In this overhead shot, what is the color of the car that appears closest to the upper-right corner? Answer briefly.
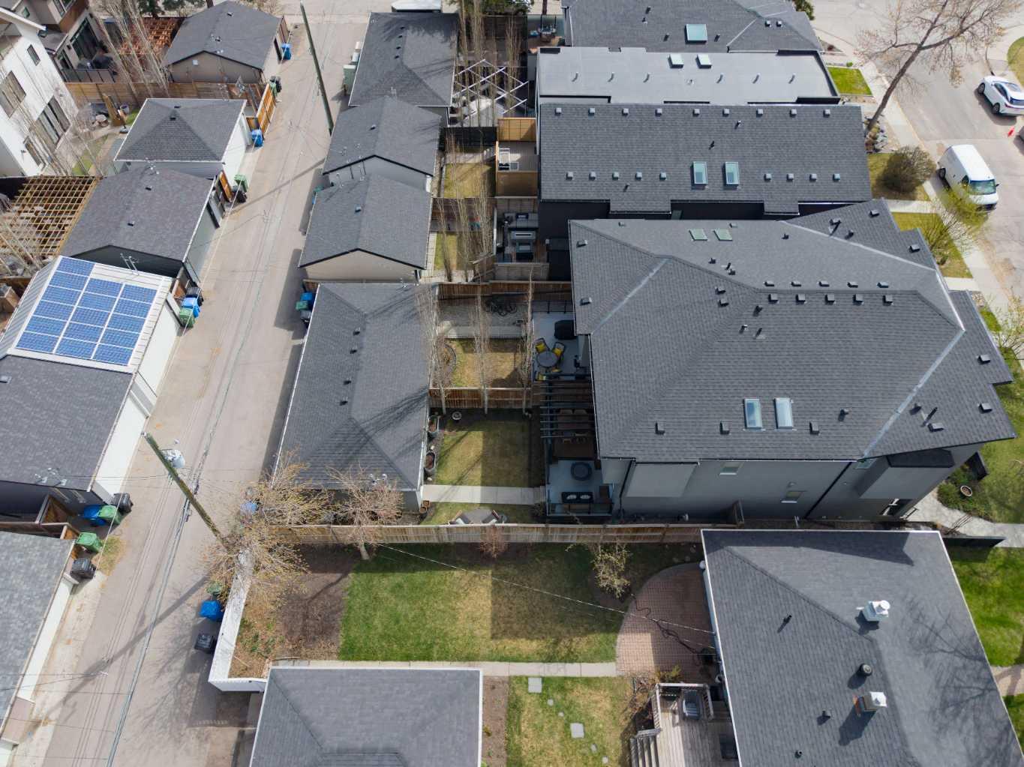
white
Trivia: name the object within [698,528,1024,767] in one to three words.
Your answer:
house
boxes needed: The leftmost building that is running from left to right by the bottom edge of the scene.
[246,666,486,767]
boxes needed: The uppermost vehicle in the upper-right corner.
[981,75,1024,114]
